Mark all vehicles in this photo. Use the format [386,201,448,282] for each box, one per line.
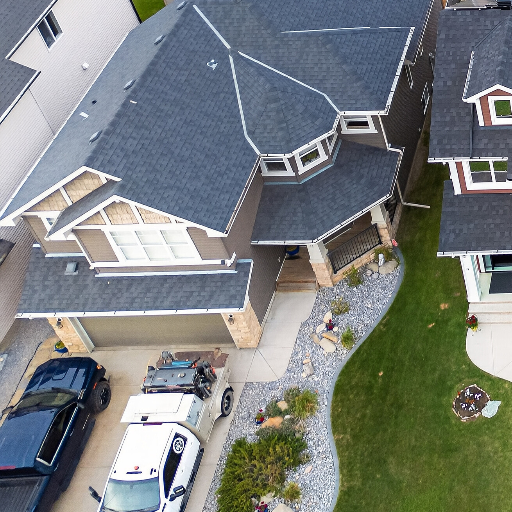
[0,360,111,512]
[87,348,233,512]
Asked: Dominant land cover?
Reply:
buildings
